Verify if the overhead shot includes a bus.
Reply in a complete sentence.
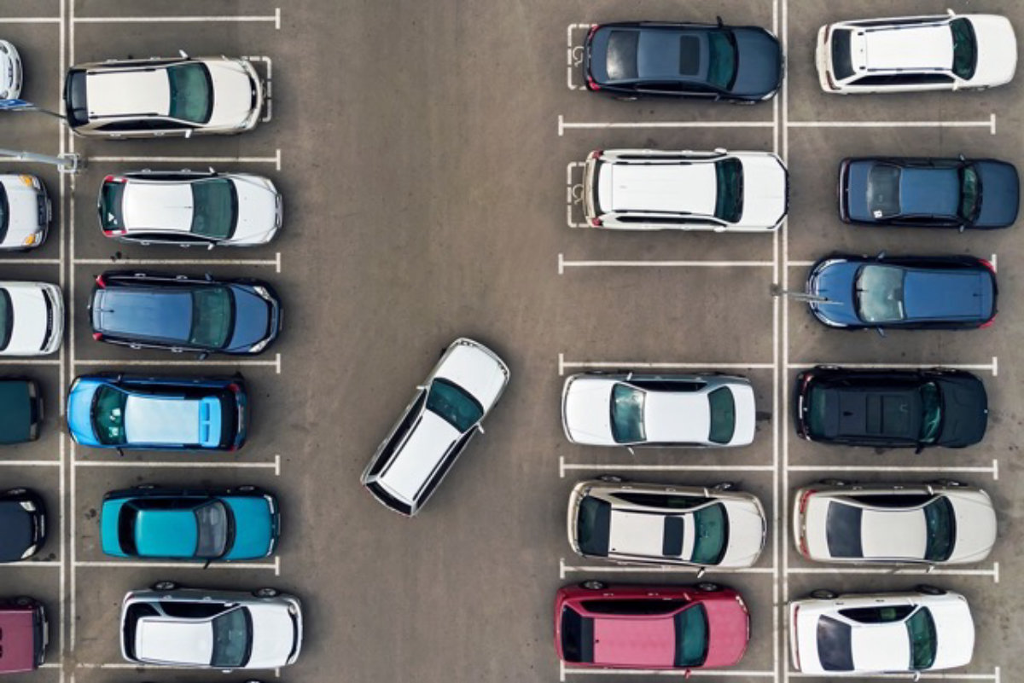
No, no bus can be seen from above.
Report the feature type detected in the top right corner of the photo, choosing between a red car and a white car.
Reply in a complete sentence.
It is a white car that can be seen in the top right corner of the photo.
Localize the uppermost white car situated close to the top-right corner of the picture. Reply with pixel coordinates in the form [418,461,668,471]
[814,4,1018,94]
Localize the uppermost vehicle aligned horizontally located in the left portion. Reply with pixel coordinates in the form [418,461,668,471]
[72,47,266,139]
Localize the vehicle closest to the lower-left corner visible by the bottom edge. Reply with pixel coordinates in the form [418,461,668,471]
[0,583,47,667]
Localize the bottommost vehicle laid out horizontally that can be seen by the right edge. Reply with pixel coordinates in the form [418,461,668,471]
[790,589,975,683]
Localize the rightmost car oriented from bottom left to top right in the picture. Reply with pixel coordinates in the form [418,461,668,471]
[359,337,510,520]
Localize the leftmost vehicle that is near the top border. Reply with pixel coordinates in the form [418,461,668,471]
[0,34,26,99]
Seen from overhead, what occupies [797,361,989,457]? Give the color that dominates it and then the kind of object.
black car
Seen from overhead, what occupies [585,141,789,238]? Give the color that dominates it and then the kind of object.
white car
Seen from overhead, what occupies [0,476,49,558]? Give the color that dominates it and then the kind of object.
black car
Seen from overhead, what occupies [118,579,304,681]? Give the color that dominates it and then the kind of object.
white car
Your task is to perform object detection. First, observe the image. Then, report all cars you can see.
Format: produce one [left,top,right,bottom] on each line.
[66,371,248,458]
[118,579,304,681]
[0,278,66,355]
[585,141,789,238]
[557,579,751,679]
[569,476,766,578]
[0,369,44,442]
[98,482,280,570]
[585,12,784,104]
[359,337,510,520]
[838,148,1020,235]
[814,4,1018,94]
[72,47,266,139]
[797,361,989,457]
[0,34,26,99]
[0,175,52,250]
[790,589,975,683]
[0,583,47,667]
[563,367,757,455]
[98,162,282,251]
[0,476,49,558]
[793,479,997,575]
